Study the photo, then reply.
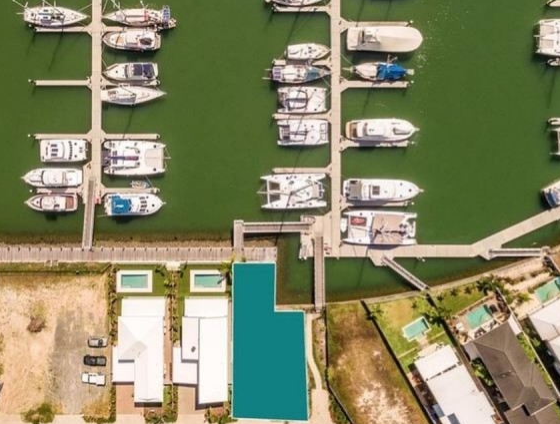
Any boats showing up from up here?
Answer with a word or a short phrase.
Yes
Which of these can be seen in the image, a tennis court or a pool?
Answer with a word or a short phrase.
pool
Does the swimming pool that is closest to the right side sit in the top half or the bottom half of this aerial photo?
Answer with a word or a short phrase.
bottom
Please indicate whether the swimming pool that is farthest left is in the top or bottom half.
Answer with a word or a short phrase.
bottom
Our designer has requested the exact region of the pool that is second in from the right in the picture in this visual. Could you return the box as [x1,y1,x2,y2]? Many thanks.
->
[463,302,495,331]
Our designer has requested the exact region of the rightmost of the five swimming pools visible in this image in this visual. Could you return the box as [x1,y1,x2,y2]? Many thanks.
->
[534,277,560,302]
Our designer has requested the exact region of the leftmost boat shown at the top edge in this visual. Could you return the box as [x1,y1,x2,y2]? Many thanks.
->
[9,0,91,27]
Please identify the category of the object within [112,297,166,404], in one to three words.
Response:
house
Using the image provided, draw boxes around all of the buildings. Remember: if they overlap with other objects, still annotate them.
[414,343,501,424]
[526,294,560,369]
[463,315,560,424]
[112,297,166,404]
[173,296,229,405]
